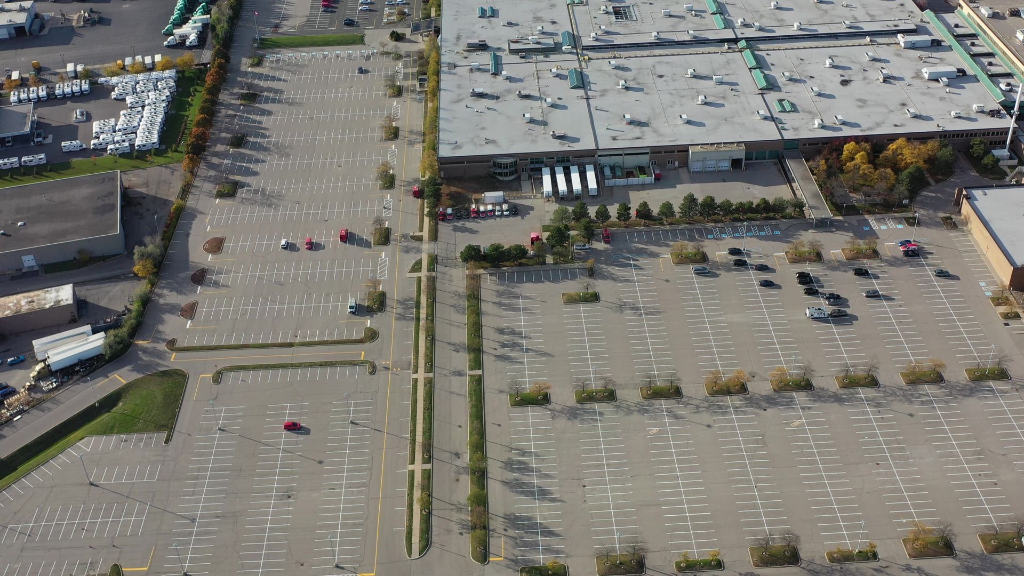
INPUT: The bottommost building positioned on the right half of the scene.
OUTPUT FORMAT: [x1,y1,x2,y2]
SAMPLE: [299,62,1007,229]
[962,184,1024,289]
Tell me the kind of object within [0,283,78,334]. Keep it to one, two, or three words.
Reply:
shed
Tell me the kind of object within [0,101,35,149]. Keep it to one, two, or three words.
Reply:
building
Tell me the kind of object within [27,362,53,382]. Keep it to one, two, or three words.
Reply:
vehicle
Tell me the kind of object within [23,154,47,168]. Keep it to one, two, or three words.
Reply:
camper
